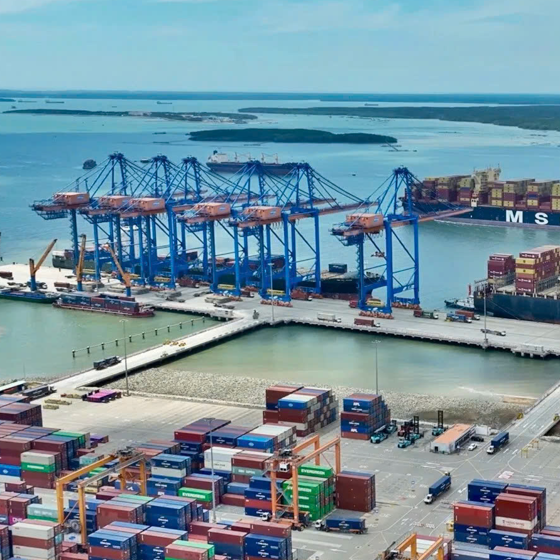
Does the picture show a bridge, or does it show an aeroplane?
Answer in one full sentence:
I can see a bridge in this picture.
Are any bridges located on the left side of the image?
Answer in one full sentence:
Yes, a bridge appears on the left side of the image.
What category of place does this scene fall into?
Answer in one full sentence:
It's a port.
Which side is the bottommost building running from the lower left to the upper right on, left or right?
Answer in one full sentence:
The bottommost building running from the lower left to the upper right appears in the right half of the scene.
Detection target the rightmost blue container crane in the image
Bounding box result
[334,165,475,318]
